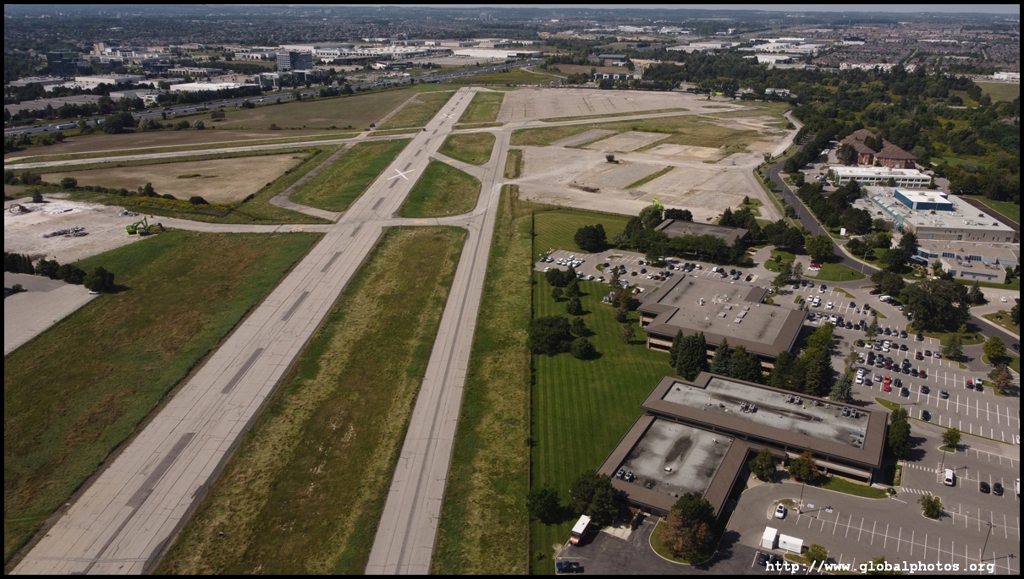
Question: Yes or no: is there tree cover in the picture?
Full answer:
Yes, tree cover can be seen from above here.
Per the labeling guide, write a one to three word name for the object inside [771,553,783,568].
vehicle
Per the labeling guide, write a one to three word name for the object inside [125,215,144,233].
work vehicle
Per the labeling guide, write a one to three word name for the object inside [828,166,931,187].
building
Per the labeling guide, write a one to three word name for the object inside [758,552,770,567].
vehicle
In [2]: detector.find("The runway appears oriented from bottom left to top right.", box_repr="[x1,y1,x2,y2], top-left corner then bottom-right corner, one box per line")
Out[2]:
[6,87,480,579]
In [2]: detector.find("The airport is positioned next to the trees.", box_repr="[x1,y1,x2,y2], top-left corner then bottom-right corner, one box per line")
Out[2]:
[0,87,793,579]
